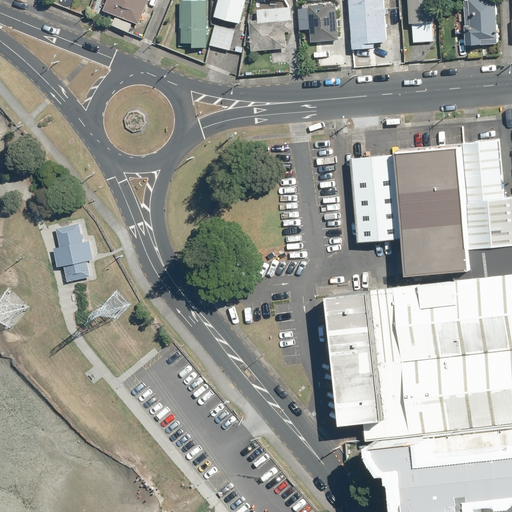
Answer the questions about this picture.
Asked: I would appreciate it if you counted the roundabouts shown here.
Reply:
1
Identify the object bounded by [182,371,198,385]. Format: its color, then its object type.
white car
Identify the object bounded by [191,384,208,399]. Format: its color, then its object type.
white vehicle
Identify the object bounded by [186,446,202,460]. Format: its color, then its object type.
white car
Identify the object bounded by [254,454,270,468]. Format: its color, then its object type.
white vehicle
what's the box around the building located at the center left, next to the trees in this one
[54,224,96,282]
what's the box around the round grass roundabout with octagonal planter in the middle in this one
[104,84,175,156]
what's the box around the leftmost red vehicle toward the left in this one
[160,413,176,427]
